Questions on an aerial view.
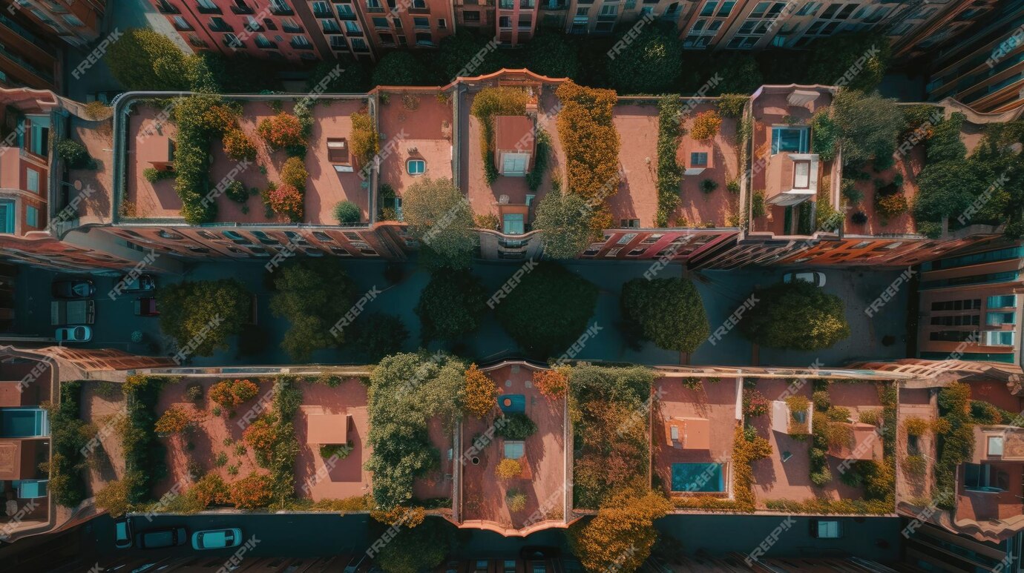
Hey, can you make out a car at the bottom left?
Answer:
Yes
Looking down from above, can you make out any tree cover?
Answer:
Yes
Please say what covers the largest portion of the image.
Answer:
buildings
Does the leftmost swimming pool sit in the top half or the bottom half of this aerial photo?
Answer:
bottom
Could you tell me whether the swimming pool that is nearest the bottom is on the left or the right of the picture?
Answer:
right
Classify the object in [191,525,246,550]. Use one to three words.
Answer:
car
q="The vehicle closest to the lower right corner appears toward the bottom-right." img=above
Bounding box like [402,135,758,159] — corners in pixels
[804,515,843,542]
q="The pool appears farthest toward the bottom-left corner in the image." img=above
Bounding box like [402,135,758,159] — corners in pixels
[0,404,45,436]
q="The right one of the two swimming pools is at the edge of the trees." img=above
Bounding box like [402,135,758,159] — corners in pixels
[667,460,730,497]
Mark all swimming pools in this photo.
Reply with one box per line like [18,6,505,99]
[667,460,730,497]
[0,404,45,436]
